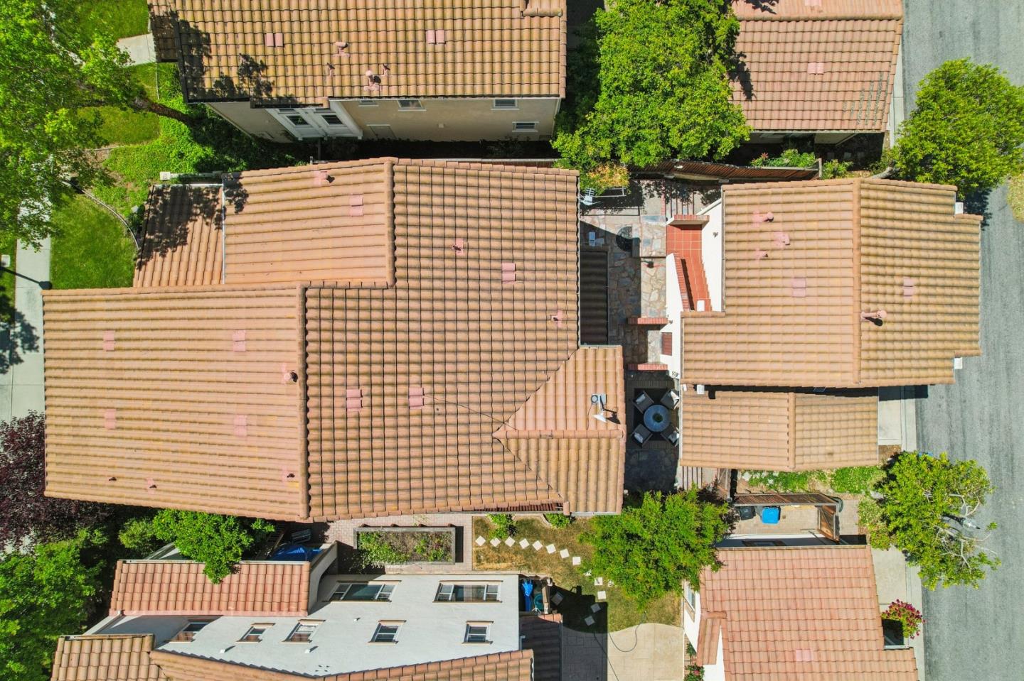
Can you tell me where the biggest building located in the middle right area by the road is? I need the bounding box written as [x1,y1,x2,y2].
[660,173,986,476]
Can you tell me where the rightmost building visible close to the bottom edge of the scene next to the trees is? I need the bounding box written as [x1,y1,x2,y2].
[684,532,922,681]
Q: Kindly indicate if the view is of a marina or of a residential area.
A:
residential area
